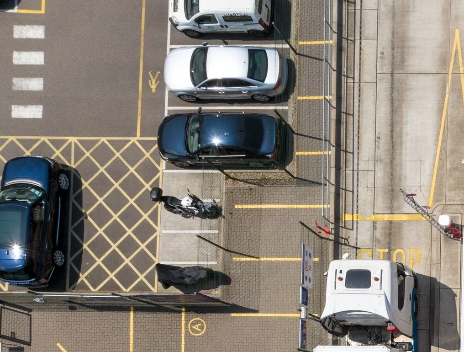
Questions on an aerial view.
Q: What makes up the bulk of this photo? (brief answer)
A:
paved ground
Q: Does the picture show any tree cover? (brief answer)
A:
No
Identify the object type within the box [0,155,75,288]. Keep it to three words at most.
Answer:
car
